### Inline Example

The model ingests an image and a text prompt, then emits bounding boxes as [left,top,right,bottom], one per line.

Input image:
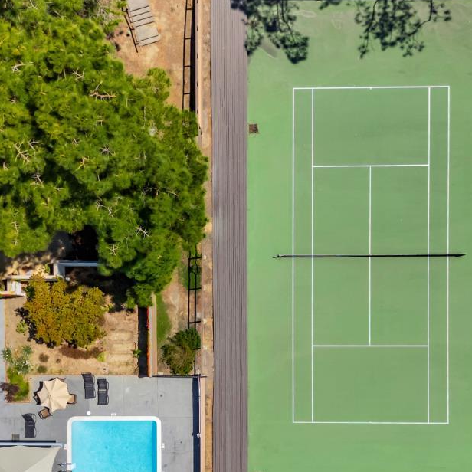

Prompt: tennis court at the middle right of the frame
[293,85,450,425]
